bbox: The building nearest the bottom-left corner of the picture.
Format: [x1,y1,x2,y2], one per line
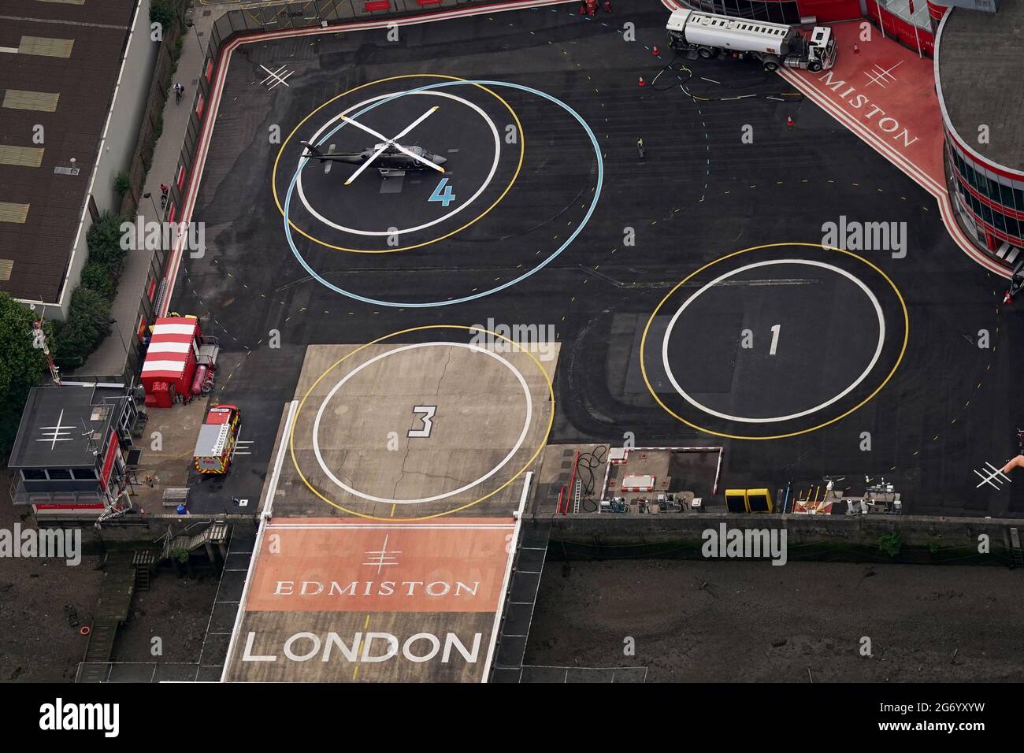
[8,386,127,517]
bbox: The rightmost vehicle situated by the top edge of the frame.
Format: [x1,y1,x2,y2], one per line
[665,9,836,71]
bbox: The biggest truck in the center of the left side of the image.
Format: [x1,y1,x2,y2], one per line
[194,404,241,474]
